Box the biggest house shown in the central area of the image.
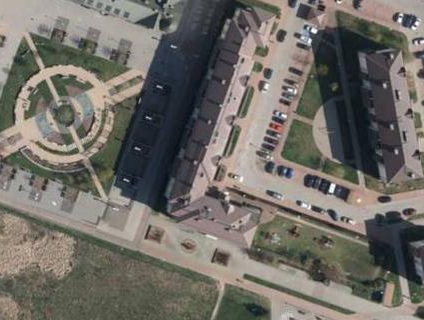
[162,7,278,248]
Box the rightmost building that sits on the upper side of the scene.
[356,50,423,182]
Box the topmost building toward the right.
[297,2,326,26]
